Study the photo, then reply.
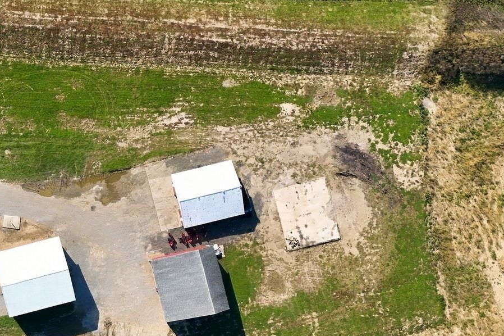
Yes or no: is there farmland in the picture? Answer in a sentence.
Yes, some farmland is visible.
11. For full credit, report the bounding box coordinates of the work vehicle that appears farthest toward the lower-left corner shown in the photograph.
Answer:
[165,234,178,249]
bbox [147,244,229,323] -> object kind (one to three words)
building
